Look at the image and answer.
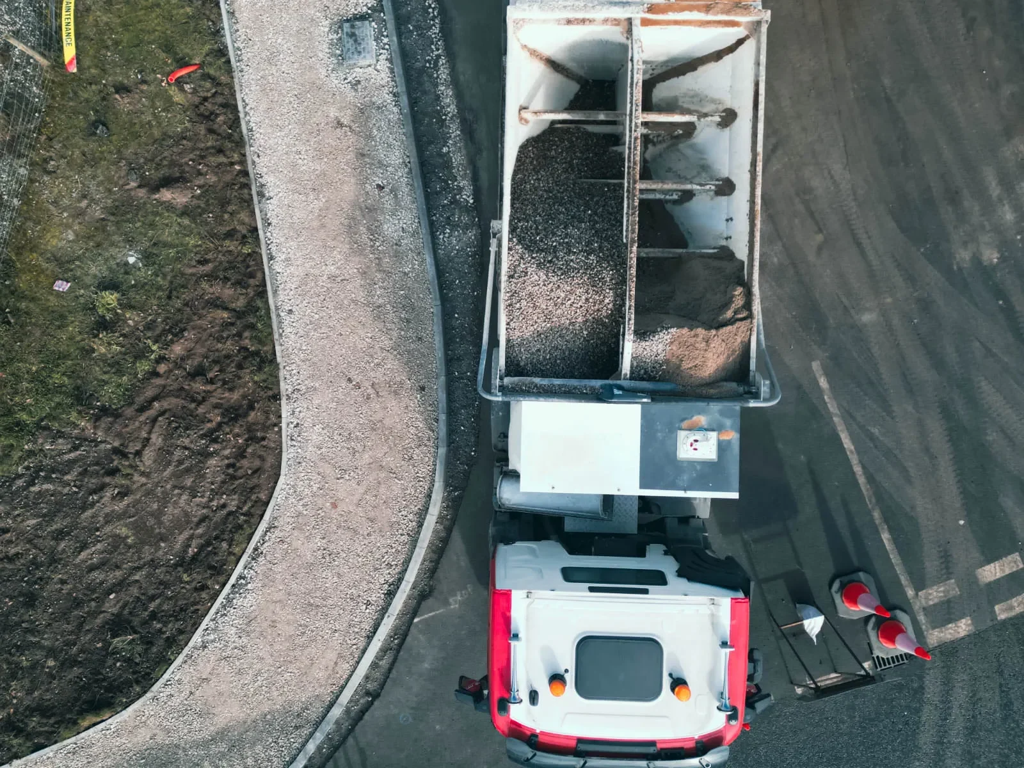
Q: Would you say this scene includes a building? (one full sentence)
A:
No, the frame has no building in it.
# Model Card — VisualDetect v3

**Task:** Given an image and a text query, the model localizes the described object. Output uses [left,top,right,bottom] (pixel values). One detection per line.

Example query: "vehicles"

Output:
[456,0,782,768]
